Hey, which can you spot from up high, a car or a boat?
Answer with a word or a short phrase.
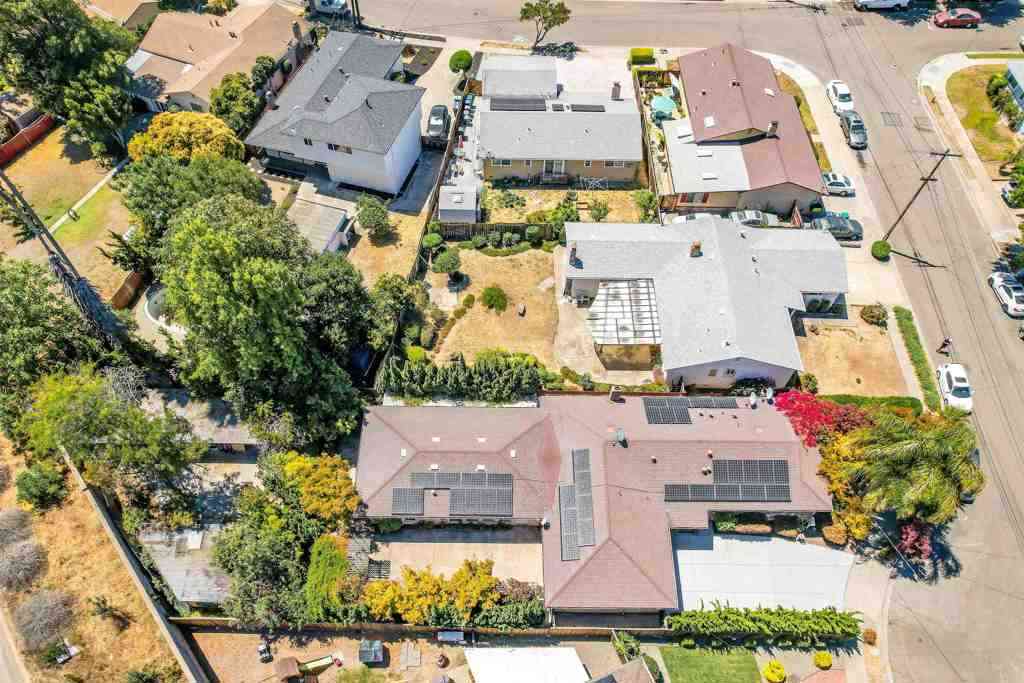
car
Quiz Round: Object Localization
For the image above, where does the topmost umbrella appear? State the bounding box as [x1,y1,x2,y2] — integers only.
[649,98,675,122]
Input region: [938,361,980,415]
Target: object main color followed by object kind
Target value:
white car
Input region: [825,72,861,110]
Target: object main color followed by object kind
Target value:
white car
